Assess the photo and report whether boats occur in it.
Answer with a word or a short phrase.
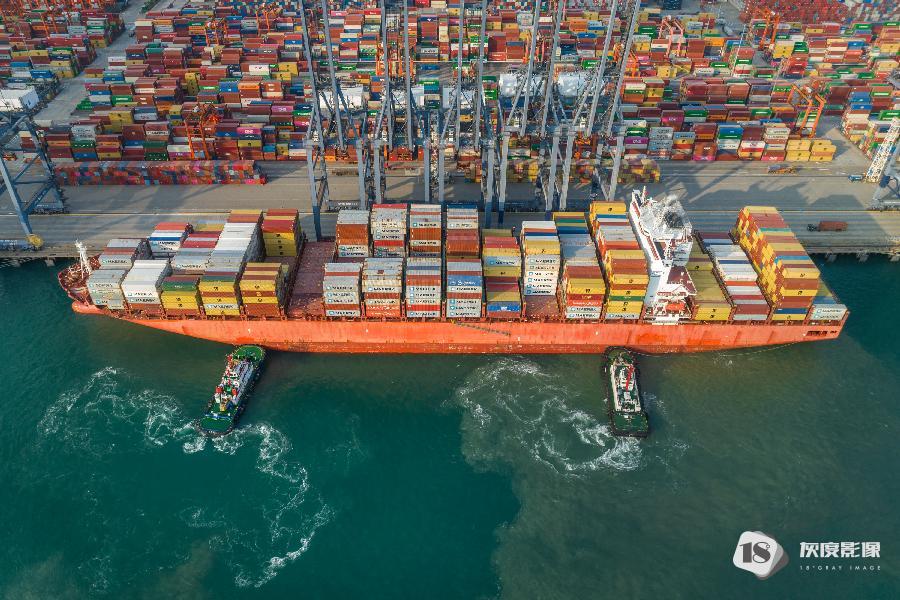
Yes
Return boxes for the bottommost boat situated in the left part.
[198,348,266,435]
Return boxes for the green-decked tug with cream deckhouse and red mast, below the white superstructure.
[603,349,650,437]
